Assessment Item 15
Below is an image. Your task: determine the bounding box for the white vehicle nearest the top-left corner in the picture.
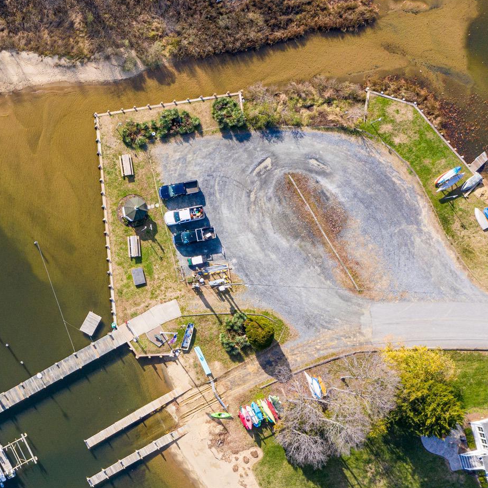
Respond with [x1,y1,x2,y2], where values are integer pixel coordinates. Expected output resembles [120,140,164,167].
[162,206,206,227]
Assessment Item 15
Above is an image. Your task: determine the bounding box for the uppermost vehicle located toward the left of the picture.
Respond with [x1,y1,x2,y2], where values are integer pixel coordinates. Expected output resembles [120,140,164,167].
[157,179,199,201]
